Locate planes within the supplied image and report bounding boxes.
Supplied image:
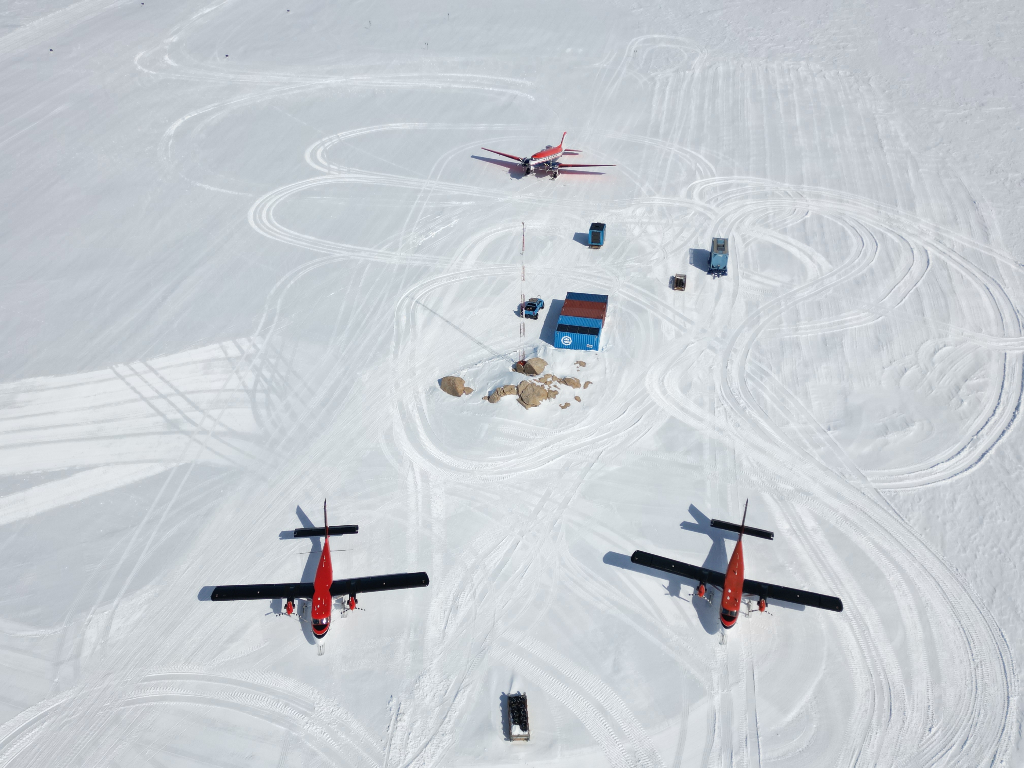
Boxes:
[631,500,842,644]
[482,132,617,180]
[212,501,429,655]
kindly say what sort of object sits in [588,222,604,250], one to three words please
building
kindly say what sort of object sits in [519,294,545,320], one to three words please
truck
